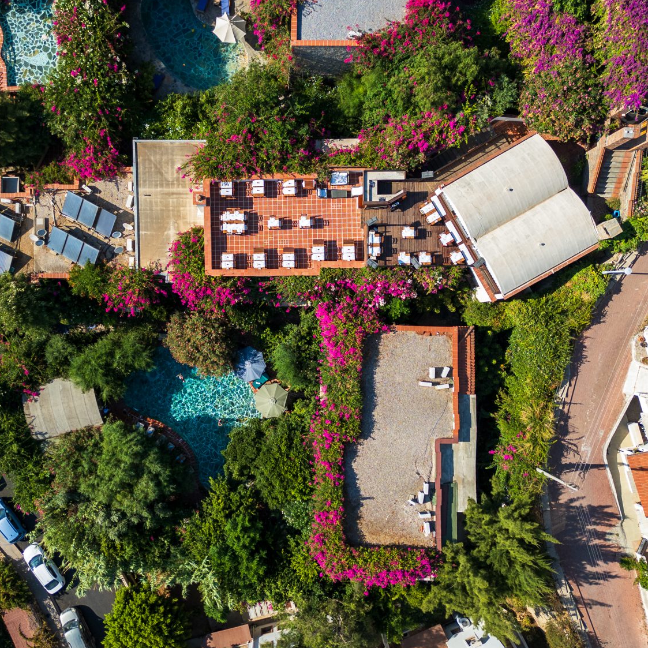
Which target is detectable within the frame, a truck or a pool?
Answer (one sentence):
The image shows a pool.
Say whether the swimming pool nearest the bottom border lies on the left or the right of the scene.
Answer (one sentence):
You can find the swimming pool nearest the bottom border on the left side of the picture.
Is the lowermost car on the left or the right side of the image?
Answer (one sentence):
The lowermost car is on the left side of the image.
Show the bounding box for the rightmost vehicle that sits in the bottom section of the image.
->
[60,602,98,648]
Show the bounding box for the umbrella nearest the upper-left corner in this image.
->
[213,14,248,50]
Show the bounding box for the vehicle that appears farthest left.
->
[0,493,27,546]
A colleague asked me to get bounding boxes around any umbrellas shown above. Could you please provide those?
[213,14,248,50]
[235,347,268,380]
[254,381,289,417]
